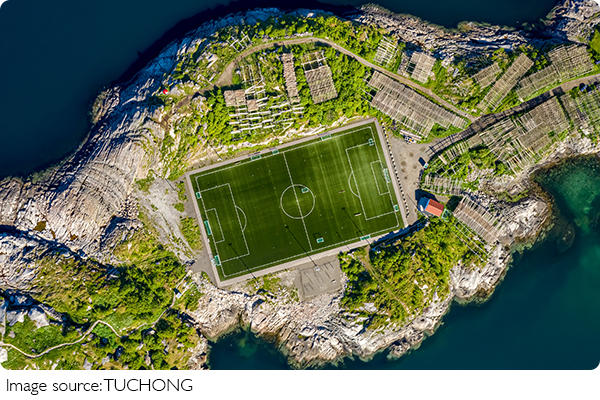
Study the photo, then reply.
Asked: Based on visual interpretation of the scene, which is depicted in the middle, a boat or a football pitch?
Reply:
football pitch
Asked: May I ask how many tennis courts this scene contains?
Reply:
none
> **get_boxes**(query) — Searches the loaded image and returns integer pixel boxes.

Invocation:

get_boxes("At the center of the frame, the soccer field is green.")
[183,114,412,288]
